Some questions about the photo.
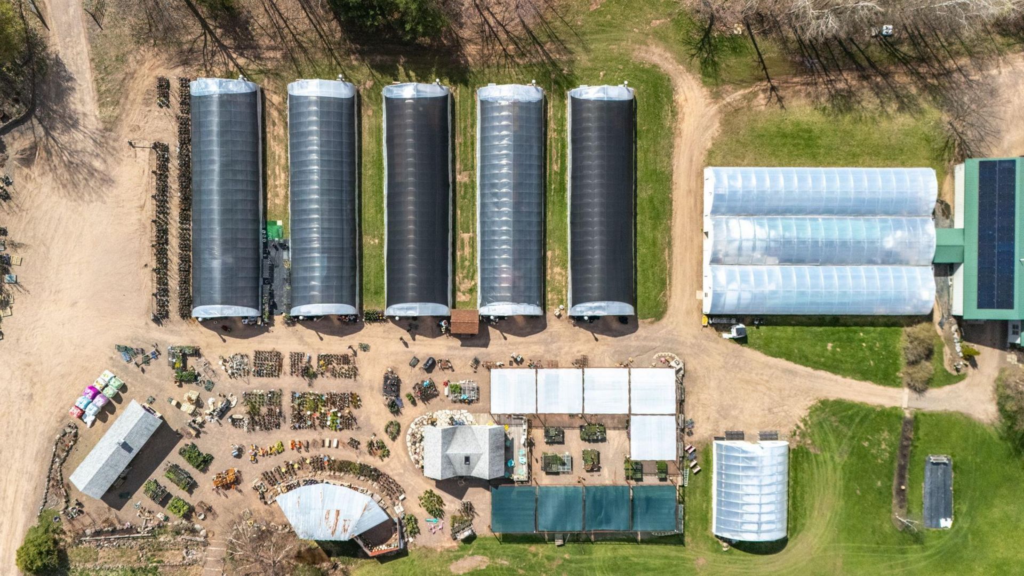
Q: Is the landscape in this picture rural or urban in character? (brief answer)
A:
urban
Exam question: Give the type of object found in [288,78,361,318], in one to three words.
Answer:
greenhouse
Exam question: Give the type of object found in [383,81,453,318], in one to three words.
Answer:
greenhouse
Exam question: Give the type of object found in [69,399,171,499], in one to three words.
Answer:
shed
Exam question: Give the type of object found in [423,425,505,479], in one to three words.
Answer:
building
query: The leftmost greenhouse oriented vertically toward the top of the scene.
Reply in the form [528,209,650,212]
[189,76,265,320]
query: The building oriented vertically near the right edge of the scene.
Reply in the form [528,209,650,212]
[943,154,1024,347]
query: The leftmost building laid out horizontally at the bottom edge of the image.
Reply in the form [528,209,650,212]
[274,483,396,556]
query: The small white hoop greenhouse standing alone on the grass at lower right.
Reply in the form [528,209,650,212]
[712,440,790,543]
